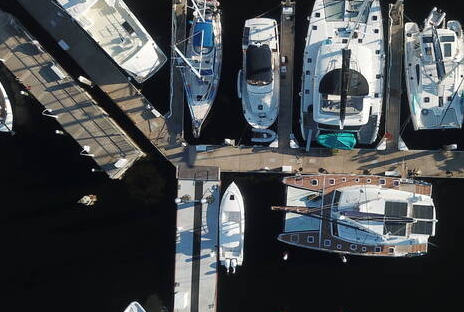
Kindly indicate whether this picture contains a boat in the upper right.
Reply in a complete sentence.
Yes, there is a boat in the upper right.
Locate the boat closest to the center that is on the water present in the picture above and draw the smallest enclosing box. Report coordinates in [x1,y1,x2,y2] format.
[249,127,274,142]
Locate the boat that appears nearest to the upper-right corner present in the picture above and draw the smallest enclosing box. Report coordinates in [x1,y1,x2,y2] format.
[425,2,448,29]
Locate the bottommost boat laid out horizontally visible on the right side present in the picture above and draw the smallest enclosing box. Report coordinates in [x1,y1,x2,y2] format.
[272,171,438,258]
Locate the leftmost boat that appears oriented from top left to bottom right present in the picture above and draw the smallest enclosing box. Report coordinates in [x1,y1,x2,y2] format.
[51,0,167,82]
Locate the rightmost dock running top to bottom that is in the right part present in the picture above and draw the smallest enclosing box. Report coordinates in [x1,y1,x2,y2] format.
[386,2,403,150]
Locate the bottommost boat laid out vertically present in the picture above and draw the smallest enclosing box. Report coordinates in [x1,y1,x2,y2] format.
[220,182,244,272]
